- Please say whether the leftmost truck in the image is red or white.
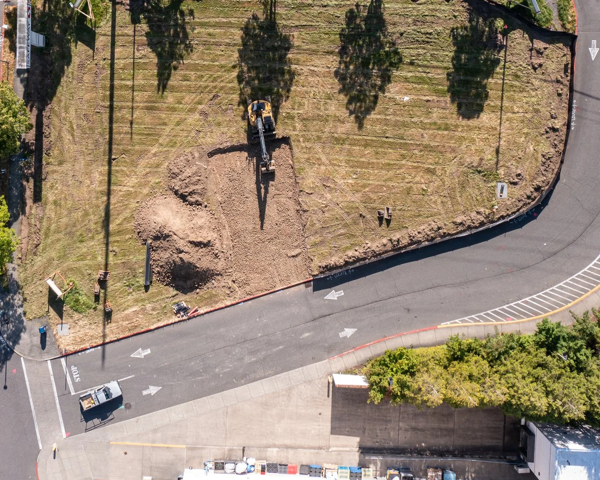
white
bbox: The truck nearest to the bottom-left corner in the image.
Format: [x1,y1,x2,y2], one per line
[75,380,126,419]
